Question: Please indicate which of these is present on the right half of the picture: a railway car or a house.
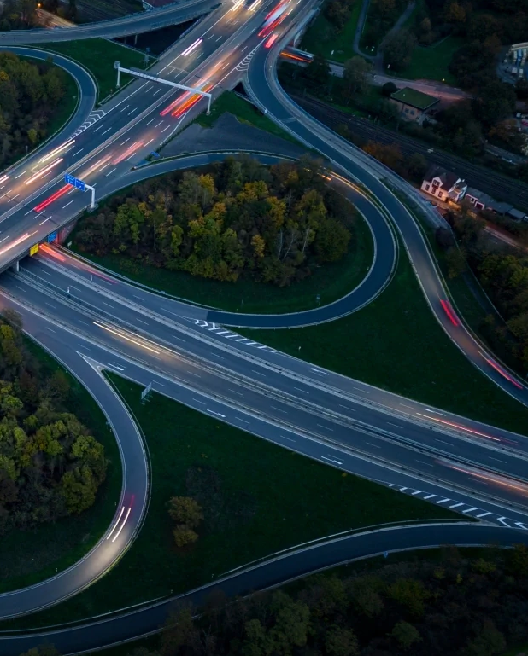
house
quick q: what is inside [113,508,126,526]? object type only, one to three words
vehicle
